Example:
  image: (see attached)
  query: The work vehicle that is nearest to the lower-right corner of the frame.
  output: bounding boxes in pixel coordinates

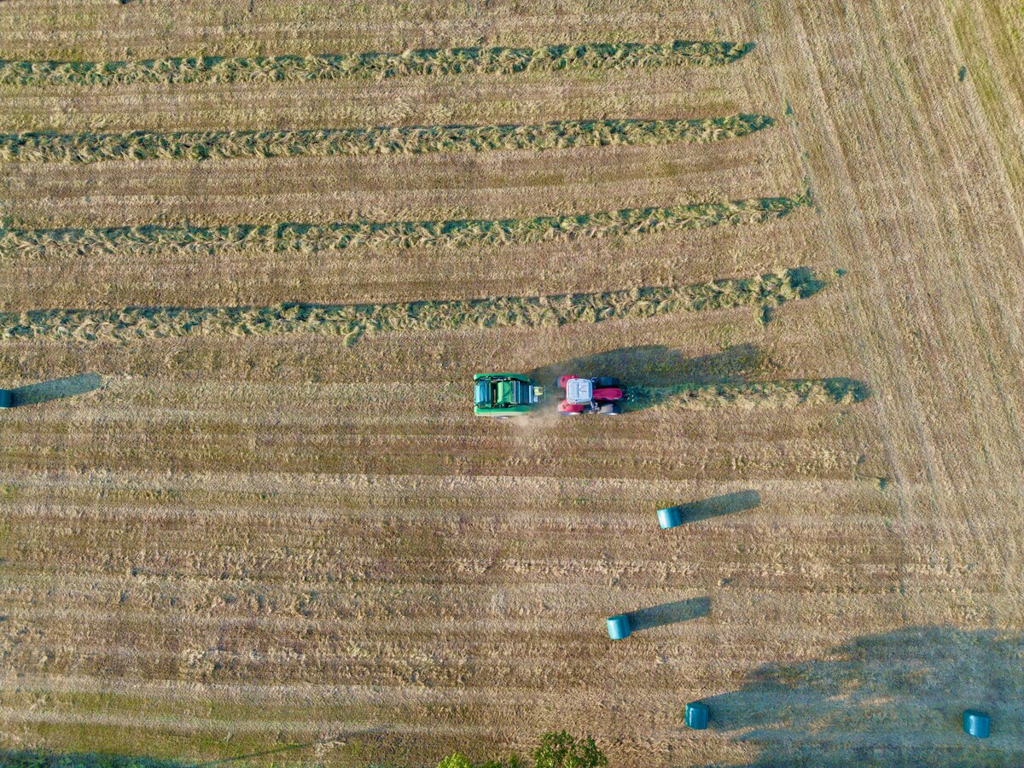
[554,372,626,416]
